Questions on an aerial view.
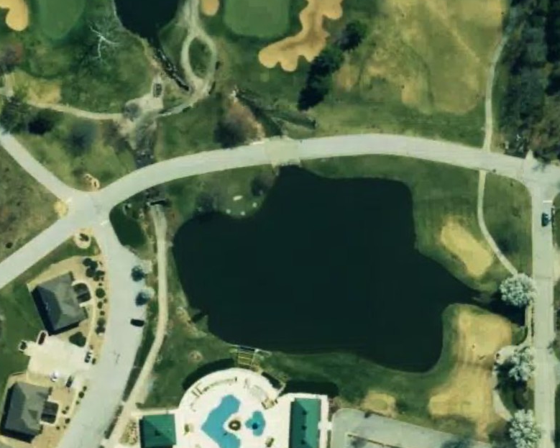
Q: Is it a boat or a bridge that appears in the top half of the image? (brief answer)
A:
bridge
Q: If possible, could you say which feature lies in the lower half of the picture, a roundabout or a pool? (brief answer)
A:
pool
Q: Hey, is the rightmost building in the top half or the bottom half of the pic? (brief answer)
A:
bottom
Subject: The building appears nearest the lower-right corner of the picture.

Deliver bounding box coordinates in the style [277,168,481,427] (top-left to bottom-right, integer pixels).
[291,399,321,448]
